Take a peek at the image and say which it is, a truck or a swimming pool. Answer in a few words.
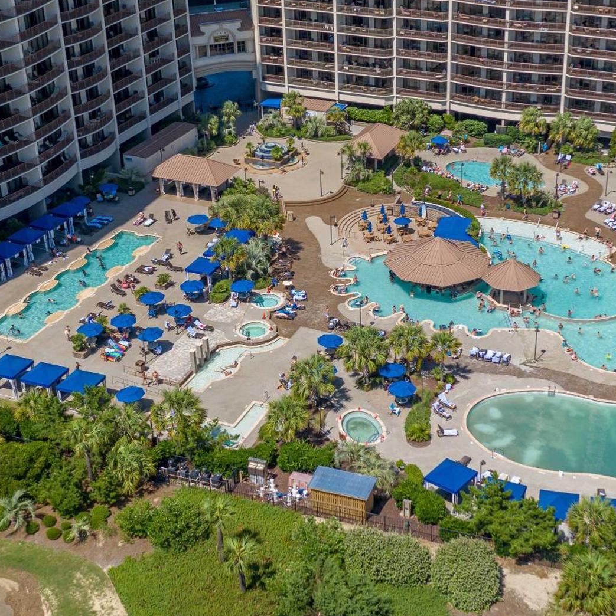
swimming pool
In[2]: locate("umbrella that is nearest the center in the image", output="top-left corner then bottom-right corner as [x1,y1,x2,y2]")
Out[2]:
[315,335,343,352]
